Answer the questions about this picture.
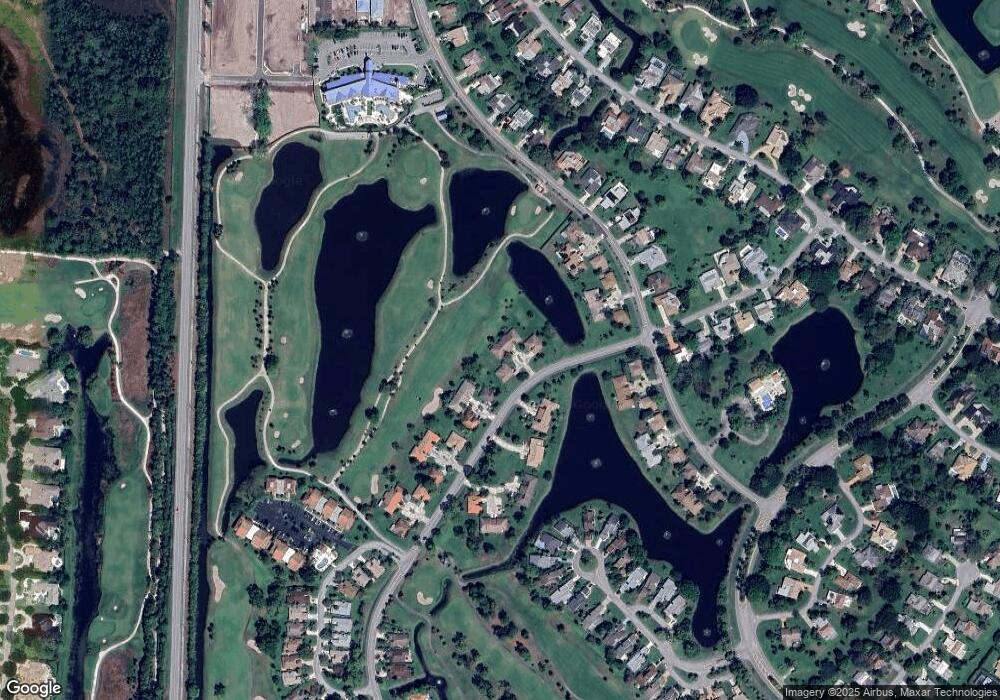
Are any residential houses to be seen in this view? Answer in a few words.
Yes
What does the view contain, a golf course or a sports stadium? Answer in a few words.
golf course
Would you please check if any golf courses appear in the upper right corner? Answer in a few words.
Yes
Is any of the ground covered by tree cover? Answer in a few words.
Yes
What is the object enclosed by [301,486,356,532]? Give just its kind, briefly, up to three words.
building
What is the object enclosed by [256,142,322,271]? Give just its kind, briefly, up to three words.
pond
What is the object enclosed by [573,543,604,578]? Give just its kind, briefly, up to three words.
roundabout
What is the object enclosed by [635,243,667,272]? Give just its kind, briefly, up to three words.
house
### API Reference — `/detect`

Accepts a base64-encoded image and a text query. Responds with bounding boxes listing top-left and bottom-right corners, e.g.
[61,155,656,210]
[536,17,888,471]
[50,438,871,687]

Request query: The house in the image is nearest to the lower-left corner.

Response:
[13,660,54,688]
